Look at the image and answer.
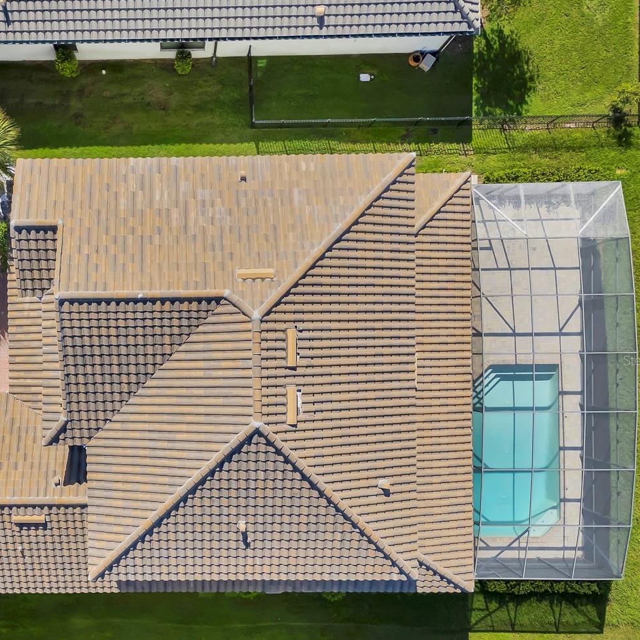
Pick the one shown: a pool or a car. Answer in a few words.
pool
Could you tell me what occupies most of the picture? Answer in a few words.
buildings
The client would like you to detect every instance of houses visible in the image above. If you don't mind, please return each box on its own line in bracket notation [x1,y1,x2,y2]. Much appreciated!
[0,148,478,597]
[0,0,485,71]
